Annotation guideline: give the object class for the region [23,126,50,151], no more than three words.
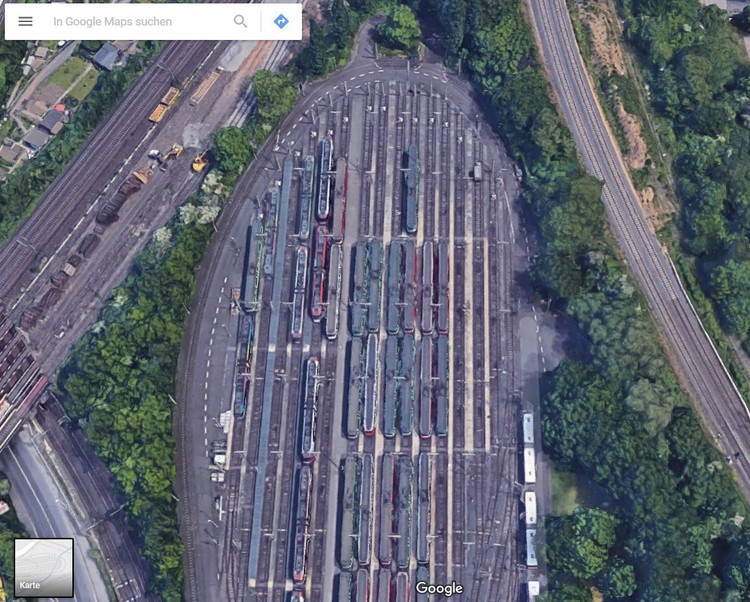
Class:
house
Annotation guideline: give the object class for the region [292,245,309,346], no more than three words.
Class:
train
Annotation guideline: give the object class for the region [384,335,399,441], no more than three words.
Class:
train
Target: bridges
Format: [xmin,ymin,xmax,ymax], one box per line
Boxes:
[0,300,64,456]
